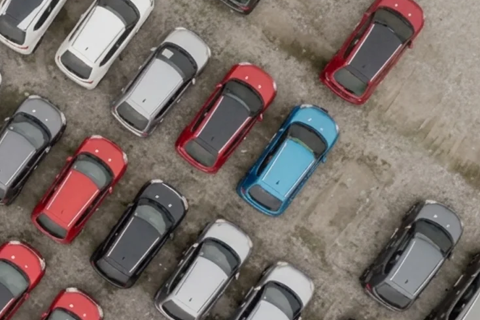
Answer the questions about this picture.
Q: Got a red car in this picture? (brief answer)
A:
Yes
